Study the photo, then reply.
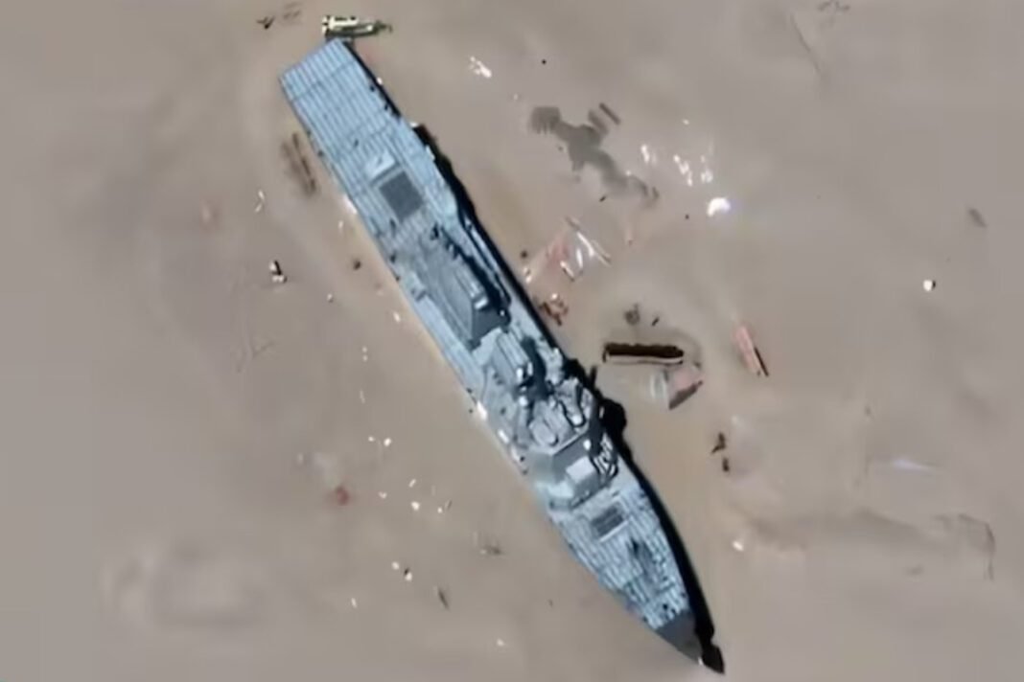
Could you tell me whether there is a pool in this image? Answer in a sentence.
No, this view has no pool in it.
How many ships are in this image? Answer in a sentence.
Just 1 ship appears in this view.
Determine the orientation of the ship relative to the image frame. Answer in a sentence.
Seen from above, the ship lies on a diagonal.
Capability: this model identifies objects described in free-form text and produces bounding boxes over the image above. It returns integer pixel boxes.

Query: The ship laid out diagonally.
[280,38,704,665]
